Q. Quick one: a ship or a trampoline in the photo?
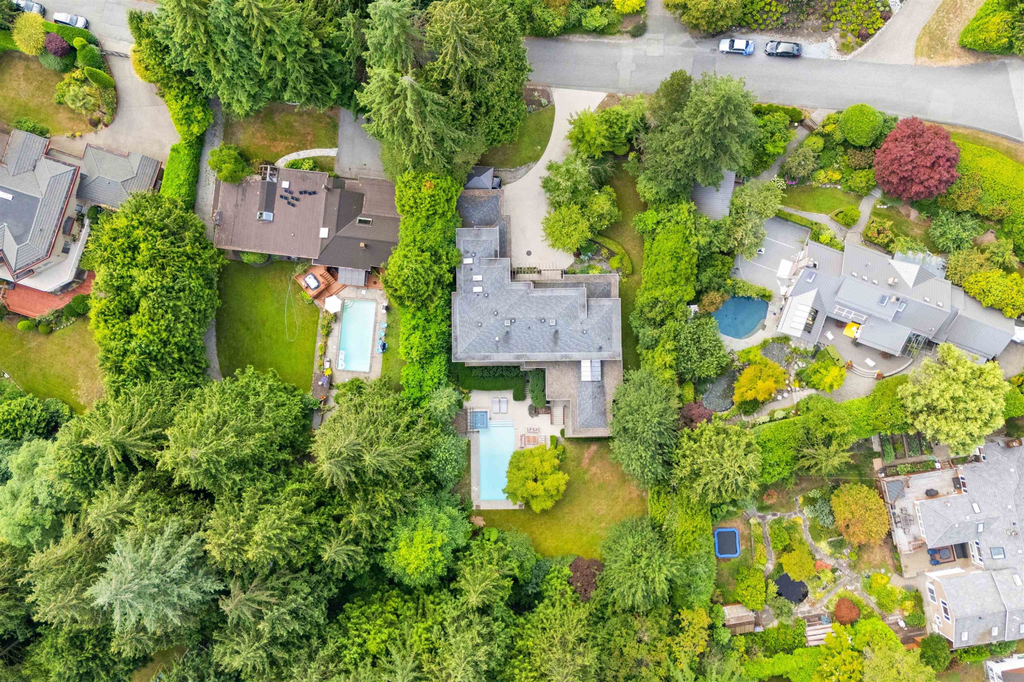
trampoline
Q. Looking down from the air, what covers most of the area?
trees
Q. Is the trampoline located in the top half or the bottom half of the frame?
bottom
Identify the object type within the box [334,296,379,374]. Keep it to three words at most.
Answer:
swimming pool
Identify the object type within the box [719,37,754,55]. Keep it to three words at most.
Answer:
car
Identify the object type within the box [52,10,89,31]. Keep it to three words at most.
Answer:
car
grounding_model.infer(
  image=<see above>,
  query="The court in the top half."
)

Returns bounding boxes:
[728,215,811,303]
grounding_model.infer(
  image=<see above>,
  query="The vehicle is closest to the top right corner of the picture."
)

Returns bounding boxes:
[764,40,804,57]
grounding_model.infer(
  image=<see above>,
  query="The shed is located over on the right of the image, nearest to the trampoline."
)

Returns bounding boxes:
[722,604,754,635]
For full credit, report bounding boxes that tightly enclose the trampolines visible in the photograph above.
[716,529,742,560]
